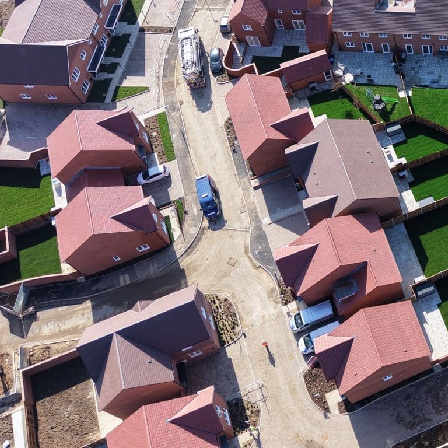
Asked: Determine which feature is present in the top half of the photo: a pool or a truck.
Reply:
truck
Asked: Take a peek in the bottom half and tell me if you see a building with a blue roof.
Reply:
No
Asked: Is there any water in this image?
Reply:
No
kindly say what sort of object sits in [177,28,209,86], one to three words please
truck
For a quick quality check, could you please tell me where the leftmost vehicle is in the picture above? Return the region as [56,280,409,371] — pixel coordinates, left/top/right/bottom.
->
[135,163,173,185]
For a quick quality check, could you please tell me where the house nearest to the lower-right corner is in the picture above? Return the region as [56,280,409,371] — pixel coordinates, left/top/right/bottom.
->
[314,300,433,402]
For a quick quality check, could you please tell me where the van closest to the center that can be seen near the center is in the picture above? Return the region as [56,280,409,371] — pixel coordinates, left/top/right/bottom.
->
[192,172,222,220]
